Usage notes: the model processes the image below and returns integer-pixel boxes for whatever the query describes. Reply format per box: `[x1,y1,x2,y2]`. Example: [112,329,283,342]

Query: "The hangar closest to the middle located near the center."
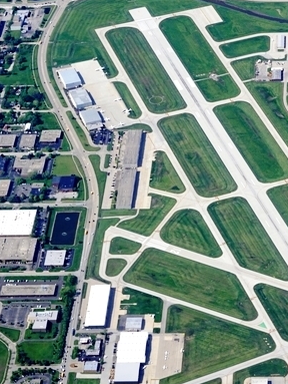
[117,169,137,211]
